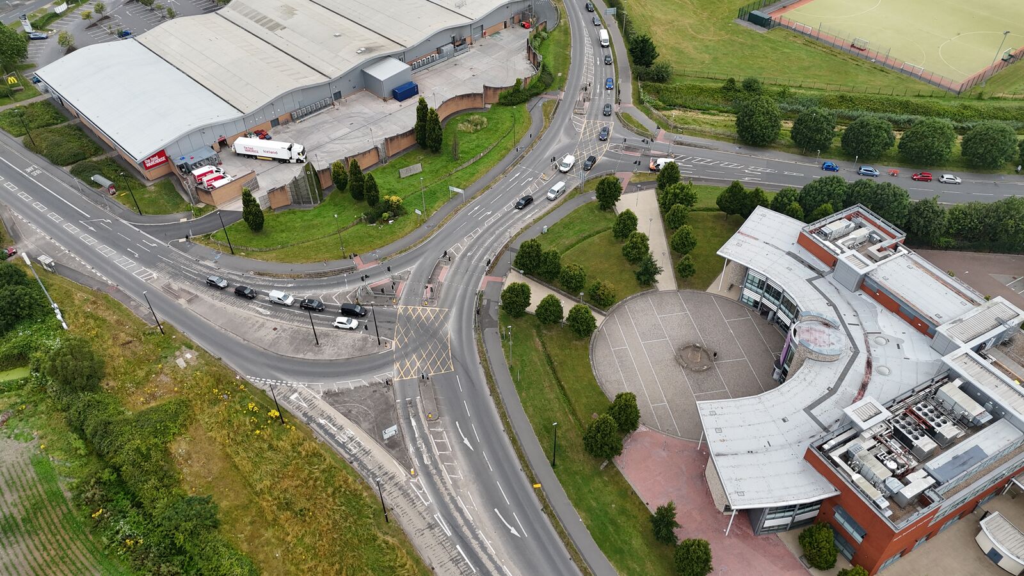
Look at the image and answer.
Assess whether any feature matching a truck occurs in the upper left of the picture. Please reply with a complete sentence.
Yes, a truck appears in the upper left of the picture.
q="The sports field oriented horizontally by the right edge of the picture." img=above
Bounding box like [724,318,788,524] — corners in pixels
[783,0,1024,84]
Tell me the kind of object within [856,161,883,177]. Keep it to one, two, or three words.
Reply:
car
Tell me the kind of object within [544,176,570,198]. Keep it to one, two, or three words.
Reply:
vehicle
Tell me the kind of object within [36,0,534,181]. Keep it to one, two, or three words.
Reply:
warehouse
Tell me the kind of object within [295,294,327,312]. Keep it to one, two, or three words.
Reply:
car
